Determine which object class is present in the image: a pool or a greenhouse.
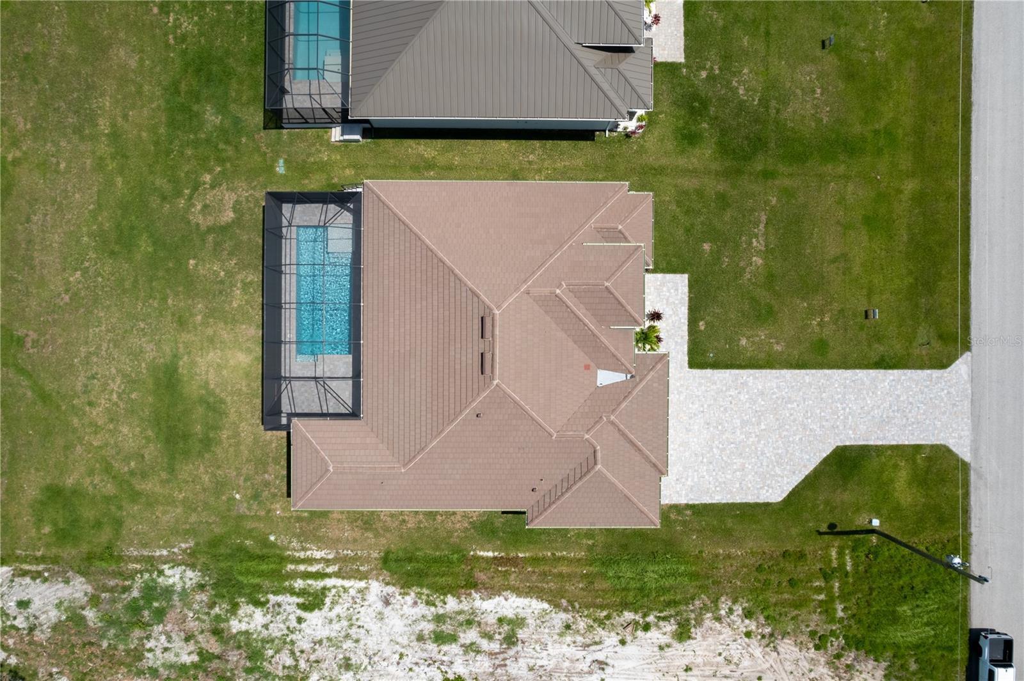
pool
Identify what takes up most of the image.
grass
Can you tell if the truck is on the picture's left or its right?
right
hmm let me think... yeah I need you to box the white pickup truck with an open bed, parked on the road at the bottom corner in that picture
[971,629,1014,681]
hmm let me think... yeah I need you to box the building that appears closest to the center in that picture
[291,180,668,528]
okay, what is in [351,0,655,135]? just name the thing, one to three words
house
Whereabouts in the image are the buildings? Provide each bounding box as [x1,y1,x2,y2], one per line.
[291,180,668,528]
[351,0,655,135]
